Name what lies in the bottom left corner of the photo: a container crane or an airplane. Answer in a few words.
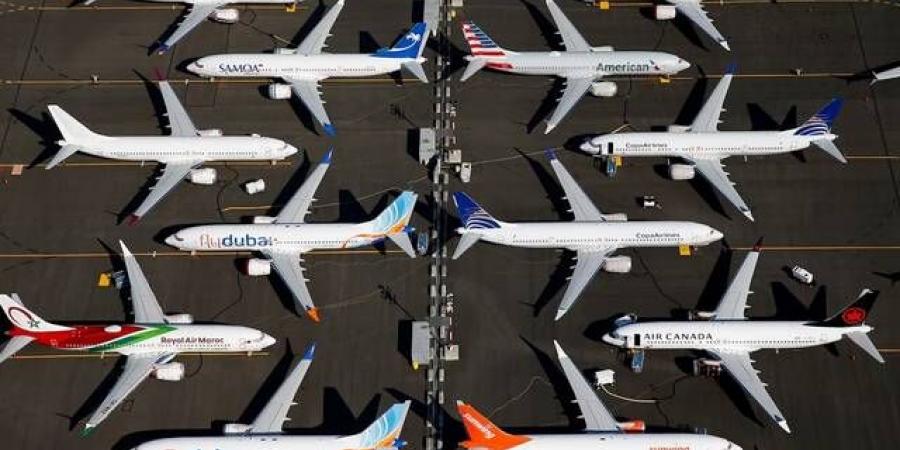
airplane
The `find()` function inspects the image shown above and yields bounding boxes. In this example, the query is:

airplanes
[147,0,294,52]
[601,245,883,428]
[0,249,276,431]
[869,68,900,84]
[461,0,692,131]
[127,348,415,450]
[654,0,726,49]
[451,154,725,317]
[163,155,420,318]
[46,75,298,222]
[579,69,846,217]
[454,348,742,450]
[185,0,431,133]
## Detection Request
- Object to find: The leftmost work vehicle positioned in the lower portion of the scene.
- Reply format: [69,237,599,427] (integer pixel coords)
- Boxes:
[96,272,111,286]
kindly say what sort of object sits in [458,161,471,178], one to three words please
vehicle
